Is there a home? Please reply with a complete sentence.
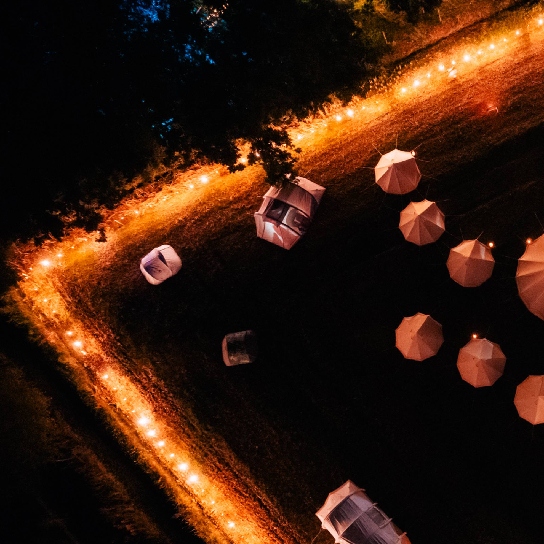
No, there is no home in the image.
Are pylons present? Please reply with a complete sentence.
No, the photo shows no pylon.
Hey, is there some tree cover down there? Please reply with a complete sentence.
Yes, there's tree cover in this view.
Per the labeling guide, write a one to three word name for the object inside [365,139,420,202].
tent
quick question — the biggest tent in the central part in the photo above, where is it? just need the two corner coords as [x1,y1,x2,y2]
[253,183,330,250]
